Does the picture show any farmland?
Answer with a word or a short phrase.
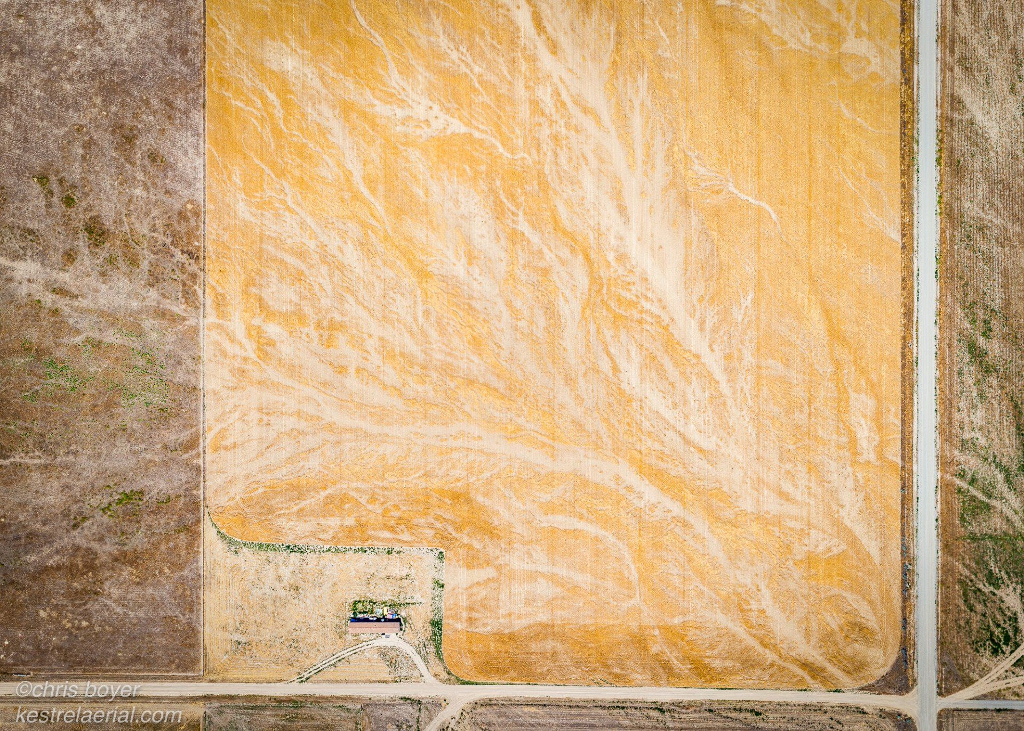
Yes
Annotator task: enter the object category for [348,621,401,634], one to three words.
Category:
shed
